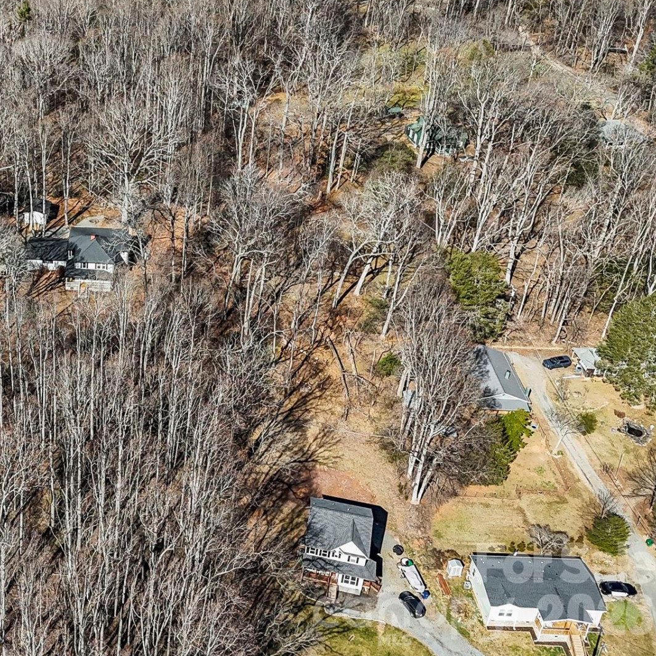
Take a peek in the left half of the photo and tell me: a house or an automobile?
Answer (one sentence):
The feature located in the left half of the photo is a house.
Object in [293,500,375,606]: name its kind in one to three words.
house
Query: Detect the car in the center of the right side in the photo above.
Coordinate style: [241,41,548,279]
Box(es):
[543,353,573,367]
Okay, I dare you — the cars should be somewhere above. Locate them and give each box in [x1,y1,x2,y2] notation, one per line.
[397,588,432,619]
[543,353,573,367]
[599,580,640,598]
